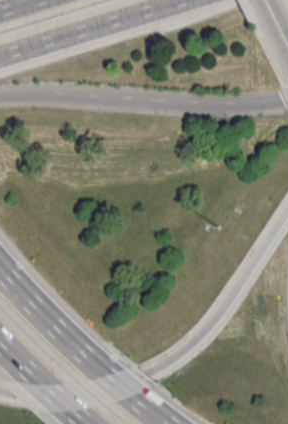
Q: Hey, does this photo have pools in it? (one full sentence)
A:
No, I find no pool anywhere in the image.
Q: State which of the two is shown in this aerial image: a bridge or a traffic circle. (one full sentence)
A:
I can see a bridge in this picture.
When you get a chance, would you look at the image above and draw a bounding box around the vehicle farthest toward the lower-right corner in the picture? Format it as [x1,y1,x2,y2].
[140,388,164,409]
